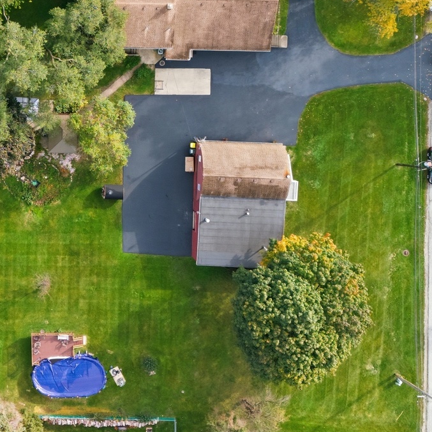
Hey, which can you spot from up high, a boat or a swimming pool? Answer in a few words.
swimming pool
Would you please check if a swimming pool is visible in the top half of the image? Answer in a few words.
No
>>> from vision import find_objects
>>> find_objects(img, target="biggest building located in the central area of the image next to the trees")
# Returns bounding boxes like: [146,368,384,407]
[193,138,300,267]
